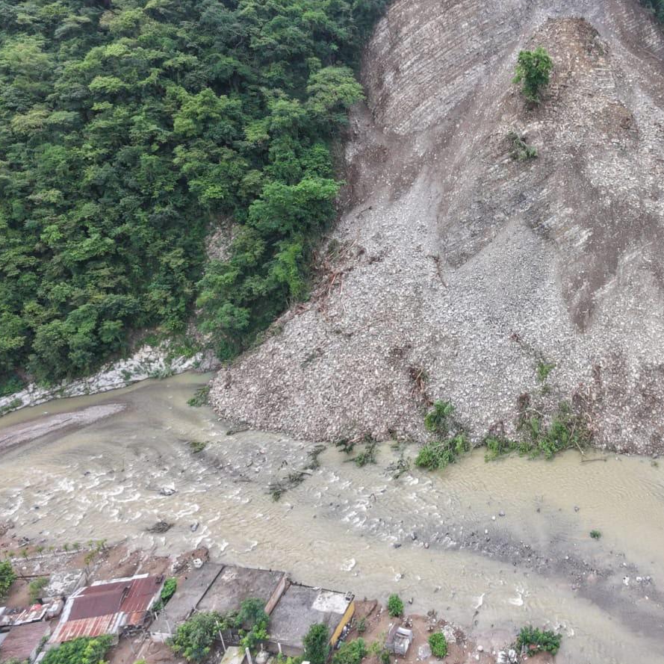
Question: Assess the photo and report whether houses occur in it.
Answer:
Yes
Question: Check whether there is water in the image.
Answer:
Yes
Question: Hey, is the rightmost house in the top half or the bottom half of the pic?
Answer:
bottom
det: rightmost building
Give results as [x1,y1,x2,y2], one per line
[271,582,355,658]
